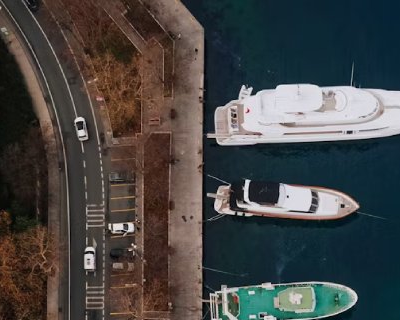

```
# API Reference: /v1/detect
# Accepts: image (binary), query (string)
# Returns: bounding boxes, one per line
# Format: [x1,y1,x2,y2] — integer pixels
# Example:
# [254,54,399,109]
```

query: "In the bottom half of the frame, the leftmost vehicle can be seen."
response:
[81,245,95,271]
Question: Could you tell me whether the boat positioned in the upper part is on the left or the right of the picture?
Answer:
right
